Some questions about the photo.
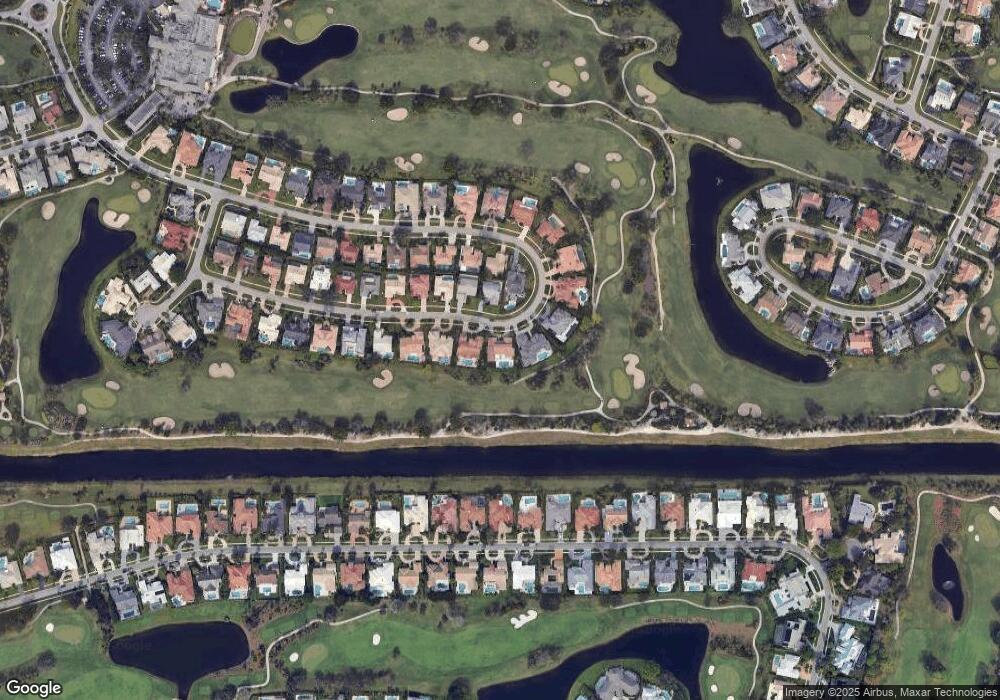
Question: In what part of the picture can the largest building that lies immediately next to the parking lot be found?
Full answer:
Look in the top left portion of the view to spot the largest building that lies immediately next to the parking lot.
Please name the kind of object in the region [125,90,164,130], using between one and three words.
barn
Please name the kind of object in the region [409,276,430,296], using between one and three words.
house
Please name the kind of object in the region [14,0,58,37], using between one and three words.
roundabout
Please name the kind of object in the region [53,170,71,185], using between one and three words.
swimming pool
